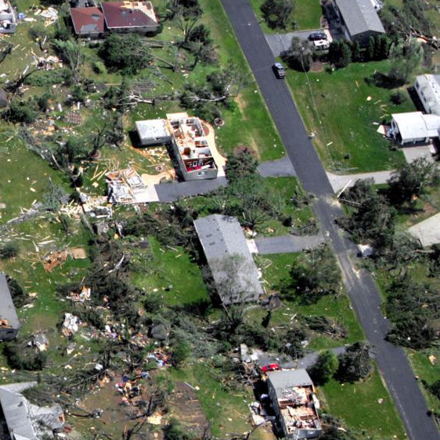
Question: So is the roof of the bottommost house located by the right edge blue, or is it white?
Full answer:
The roof of the bottommost house located by the right edge is white.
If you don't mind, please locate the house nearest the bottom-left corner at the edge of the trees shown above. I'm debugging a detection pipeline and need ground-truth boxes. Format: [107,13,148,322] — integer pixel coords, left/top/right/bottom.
[0,382,81,440]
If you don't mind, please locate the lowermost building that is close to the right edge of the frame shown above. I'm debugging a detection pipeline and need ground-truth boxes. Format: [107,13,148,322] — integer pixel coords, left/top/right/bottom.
[390,112,440,147]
